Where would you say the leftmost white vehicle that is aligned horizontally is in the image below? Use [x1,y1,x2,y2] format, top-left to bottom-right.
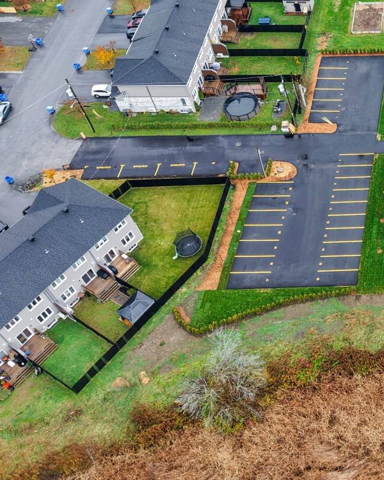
[85,82,117,96]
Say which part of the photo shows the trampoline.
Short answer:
center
